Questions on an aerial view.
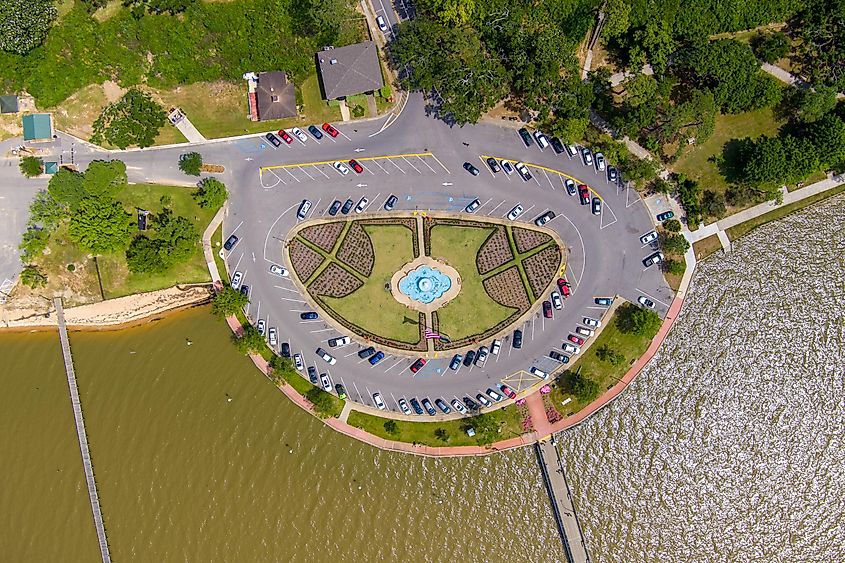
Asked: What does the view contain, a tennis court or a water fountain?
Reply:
water fountain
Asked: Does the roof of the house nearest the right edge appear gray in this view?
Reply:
Yes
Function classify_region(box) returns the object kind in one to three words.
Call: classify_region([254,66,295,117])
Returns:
house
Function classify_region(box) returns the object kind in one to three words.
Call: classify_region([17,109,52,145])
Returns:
building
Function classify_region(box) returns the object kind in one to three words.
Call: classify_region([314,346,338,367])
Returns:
vehicle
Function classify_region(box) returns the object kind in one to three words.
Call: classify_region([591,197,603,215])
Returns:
vehicle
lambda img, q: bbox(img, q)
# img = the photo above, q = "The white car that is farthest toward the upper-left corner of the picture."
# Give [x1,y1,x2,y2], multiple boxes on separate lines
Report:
[292,126,309,143]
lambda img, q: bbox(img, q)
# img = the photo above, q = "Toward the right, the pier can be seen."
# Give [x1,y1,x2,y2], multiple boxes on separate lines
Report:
[538,435,592,563]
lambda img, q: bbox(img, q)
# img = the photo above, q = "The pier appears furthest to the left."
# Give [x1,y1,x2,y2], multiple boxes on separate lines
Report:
[54,297,112,563]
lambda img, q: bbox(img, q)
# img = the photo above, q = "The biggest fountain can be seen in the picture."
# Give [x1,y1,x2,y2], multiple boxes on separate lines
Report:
[399,265,451,304]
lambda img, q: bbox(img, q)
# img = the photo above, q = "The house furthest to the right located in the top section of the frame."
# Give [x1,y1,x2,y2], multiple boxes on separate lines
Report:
[319,38,382,95]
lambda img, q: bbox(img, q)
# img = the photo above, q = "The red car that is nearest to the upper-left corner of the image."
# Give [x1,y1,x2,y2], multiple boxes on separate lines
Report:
[277,129,294,145]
